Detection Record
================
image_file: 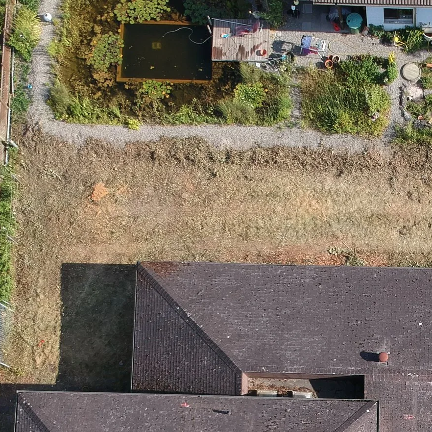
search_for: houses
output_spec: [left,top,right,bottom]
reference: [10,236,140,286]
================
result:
[111,260,432,432]
[310,0,432,30]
